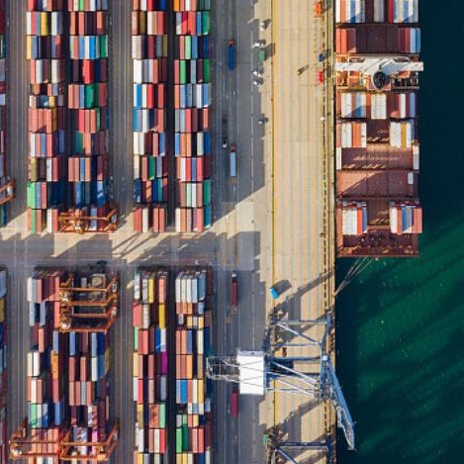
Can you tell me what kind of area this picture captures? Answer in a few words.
port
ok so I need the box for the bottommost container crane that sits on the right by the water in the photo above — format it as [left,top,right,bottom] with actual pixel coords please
[261,414,329,464]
